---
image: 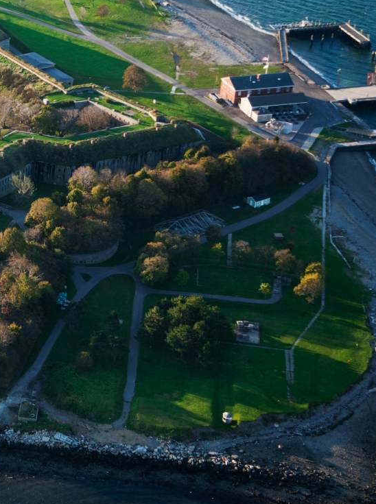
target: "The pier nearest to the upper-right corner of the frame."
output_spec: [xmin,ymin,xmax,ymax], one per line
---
[339,17,372,51]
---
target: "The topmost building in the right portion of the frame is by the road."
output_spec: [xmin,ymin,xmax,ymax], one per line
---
[224,68,297,106]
